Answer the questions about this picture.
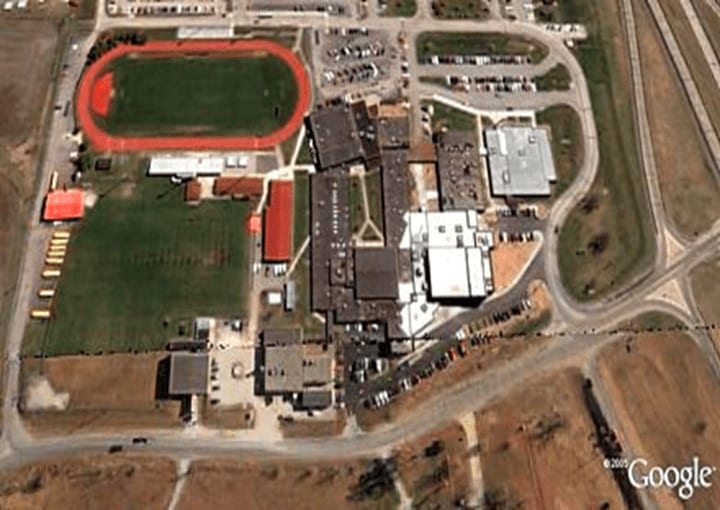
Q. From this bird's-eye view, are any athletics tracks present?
Yes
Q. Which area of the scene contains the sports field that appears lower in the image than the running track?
left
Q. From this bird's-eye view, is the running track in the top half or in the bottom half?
top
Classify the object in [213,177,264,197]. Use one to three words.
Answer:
building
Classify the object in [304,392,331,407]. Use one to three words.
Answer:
shed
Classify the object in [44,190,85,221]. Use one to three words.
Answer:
barn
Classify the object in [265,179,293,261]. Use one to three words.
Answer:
building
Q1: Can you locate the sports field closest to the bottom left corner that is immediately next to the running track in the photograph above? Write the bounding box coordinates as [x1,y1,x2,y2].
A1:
[24,179,248,357]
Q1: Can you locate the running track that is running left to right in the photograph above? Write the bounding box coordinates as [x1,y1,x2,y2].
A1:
[77,38,311,152]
